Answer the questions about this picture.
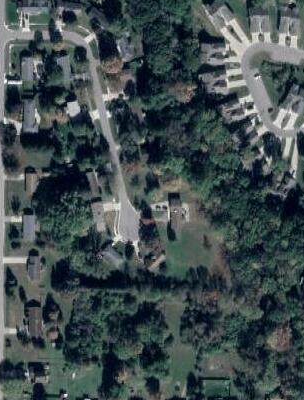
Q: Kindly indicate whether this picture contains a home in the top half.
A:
Yes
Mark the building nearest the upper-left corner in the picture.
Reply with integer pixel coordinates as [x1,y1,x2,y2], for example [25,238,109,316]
[19,0,49,16]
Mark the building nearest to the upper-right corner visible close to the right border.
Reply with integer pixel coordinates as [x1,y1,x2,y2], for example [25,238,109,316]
[280,7,300,37]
